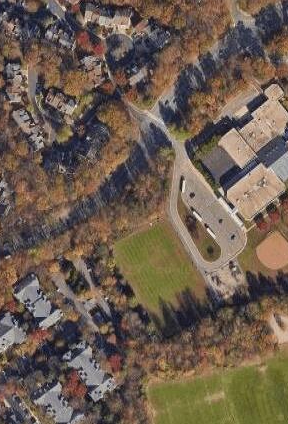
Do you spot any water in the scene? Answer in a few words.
No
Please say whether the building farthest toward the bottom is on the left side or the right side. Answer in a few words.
left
